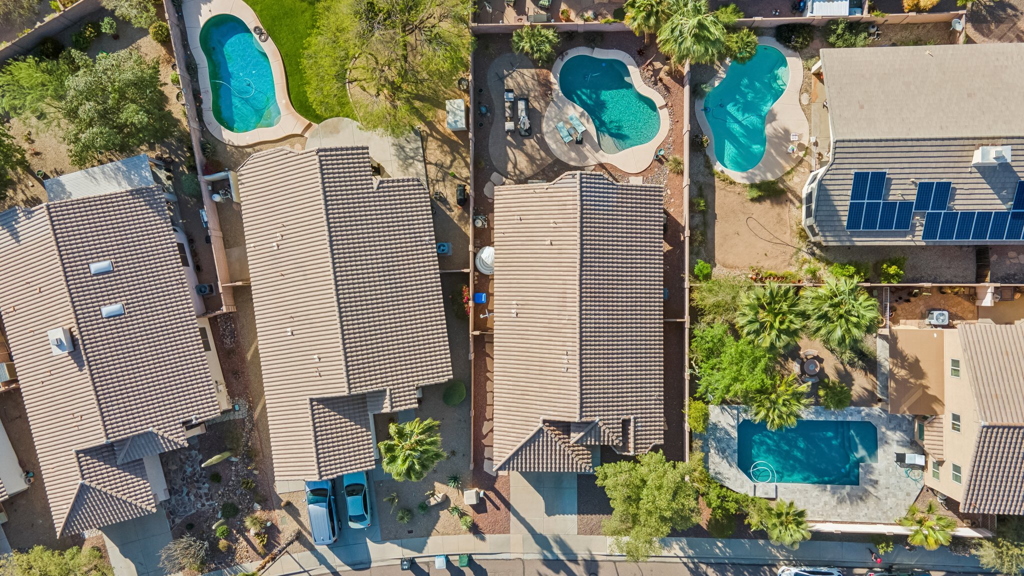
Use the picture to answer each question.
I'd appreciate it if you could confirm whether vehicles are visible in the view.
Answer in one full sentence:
Yes, there is a vehicle in the image.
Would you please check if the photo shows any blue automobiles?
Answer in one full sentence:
Yes, the picture does show a blue automobile.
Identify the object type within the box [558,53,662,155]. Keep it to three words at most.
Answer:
swimming pool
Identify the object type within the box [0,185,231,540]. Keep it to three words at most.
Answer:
house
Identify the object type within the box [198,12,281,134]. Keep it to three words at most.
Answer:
swimming pool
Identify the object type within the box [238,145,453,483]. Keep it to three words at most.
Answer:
house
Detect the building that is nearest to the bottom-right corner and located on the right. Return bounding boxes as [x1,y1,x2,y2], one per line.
[885,324,1024,515]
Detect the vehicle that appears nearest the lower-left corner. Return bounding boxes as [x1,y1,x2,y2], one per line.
[310,478,343,543]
